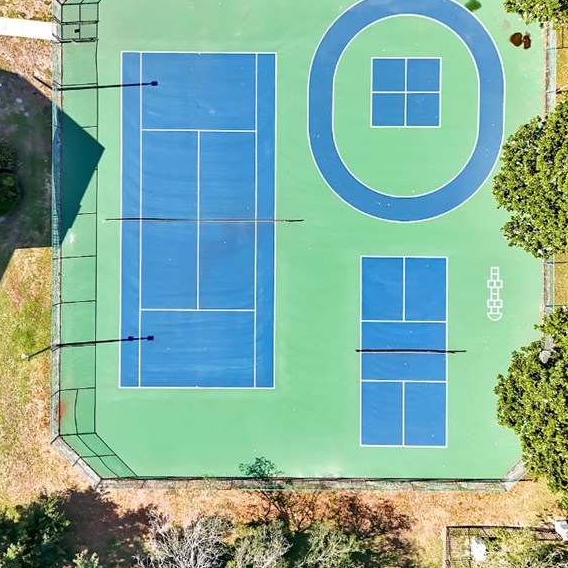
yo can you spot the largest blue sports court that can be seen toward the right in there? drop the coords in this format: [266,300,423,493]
[360,256,448,447]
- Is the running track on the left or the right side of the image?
right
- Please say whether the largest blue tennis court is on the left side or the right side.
left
